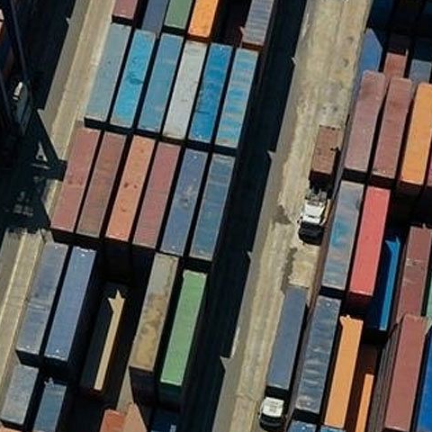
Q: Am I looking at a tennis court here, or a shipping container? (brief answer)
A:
shipping container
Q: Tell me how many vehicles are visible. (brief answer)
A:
2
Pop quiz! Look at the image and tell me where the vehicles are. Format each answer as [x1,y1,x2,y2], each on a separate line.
[295,178,324,240]
[256,377,282,428]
